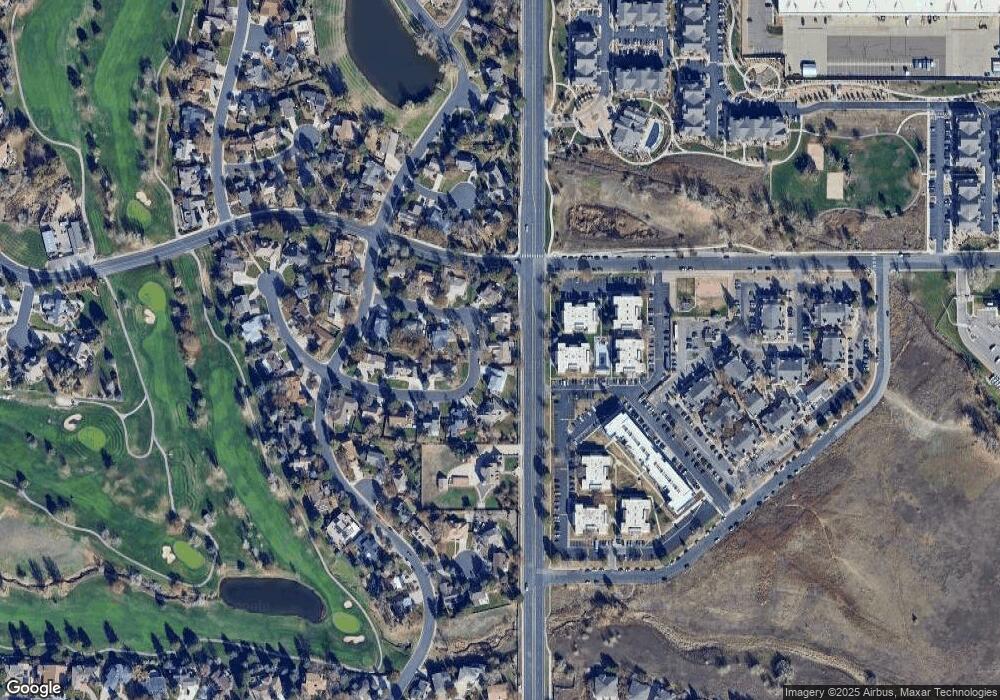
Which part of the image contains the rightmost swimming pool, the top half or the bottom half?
top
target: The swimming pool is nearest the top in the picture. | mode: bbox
[640,118,664,151]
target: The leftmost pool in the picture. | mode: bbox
[595,337,610,370]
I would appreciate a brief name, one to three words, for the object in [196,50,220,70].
house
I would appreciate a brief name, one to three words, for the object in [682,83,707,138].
building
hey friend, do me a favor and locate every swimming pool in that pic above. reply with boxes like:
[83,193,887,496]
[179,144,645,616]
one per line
[640,118,664,151]
[595,337,610,370]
